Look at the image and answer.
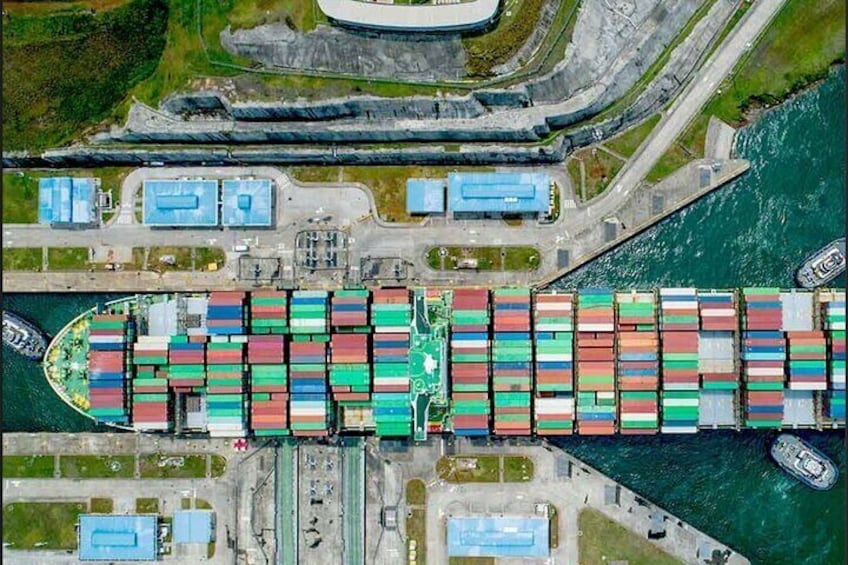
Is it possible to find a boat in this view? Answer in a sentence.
Yes, the frame does contain a boat.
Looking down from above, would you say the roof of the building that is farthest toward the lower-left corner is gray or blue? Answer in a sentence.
The color of the roof of the building that is farthest toward the lower-left corner is blue.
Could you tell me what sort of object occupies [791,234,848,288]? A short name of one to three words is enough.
boat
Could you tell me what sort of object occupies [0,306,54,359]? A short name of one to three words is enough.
boat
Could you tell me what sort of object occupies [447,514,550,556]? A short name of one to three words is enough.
building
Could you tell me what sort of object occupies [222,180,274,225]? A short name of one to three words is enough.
building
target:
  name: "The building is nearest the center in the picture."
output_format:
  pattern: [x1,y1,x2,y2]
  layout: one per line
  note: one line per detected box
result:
[407,179,445,213]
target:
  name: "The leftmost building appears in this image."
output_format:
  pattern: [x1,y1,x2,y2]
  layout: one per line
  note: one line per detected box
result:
[37,177,113,230]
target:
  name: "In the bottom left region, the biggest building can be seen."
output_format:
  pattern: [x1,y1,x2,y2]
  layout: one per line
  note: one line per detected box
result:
[77,513,163,560]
